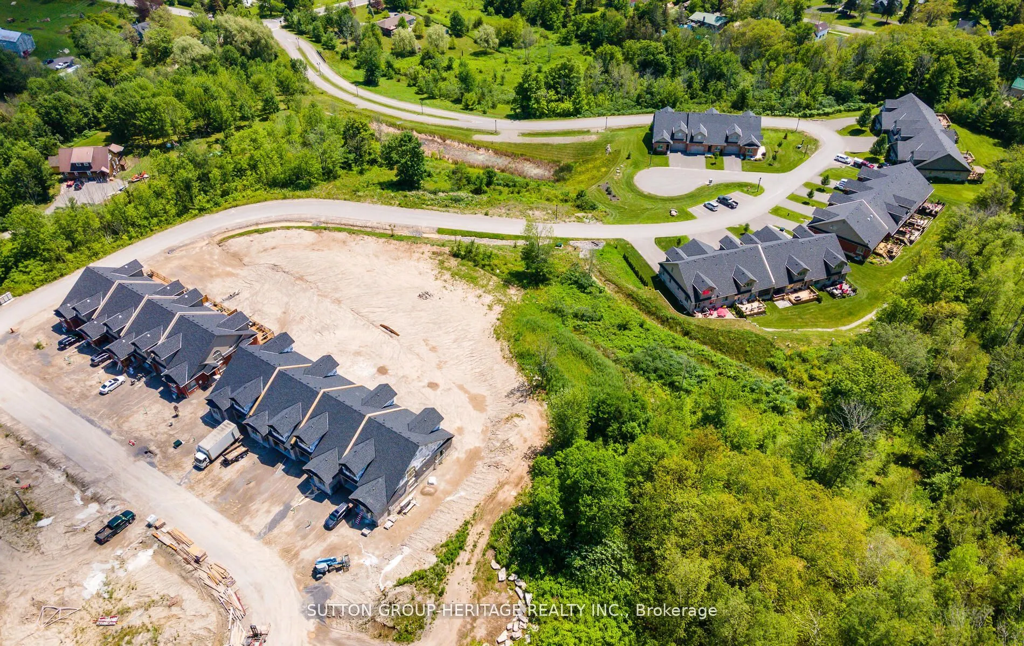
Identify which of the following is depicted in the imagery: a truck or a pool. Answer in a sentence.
I can see a truck in this picture.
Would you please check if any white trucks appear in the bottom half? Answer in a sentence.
Yes, looking in the bottom half, one can make out a white truck.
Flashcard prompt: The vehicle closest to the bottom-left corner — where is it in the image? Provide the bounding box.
[91,508,138,545]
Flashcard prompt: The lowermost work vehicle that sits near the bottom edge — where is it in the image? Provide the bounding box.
[241,620,271,646]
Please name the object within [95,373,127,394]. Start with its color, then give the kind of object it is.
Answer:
white car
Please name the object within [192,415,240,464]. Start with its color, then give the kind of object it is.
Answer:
white truck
